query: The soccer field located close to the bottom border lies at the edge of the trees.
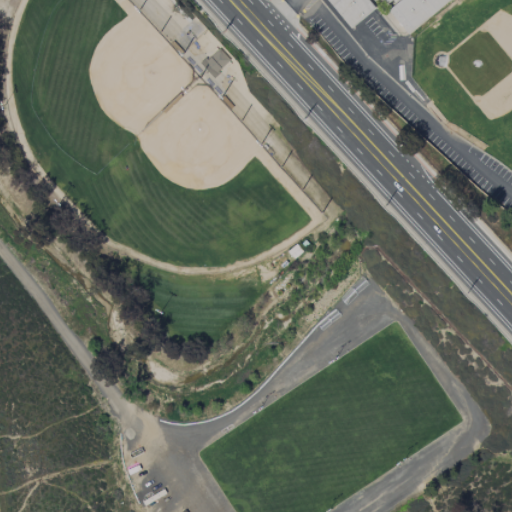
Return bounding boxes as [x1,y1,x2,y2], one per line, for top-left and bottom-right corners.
[200,322,464,512]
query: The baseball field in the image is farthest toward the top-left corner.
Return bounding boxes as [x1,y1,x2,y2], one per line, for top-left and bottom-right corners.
[12,0,200,202]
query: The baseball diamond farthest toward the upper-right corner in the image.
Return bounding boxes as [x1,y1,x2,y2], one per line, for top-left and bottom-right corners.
[415,0,512,164]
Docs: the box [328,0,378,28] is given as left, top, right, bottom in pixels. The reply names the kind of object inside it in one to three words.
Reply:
building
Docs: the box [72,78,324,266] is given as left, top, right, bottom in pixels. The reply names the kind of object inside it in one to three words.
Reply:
baseball field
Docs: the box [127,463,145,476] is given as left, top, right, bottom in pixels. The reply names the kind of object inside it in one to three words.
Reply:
vehicle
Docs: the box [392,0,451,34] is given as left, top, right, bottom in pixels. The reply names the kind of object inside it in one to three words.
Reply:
building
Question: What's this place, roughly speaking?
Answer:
sports ground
